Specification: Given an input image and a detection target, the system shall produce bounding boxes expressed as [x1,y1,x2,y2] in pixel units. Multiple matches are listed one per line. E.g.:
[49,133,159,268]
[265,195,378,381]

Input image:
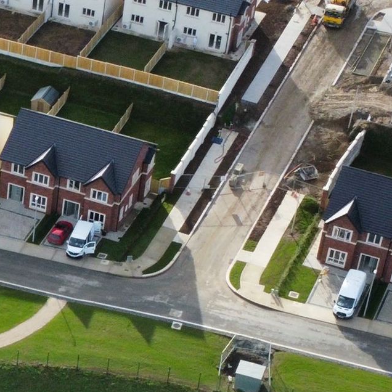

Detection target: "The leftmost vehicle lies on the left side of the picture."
[49,219,76,244]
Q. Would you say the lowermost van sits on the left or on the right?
right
